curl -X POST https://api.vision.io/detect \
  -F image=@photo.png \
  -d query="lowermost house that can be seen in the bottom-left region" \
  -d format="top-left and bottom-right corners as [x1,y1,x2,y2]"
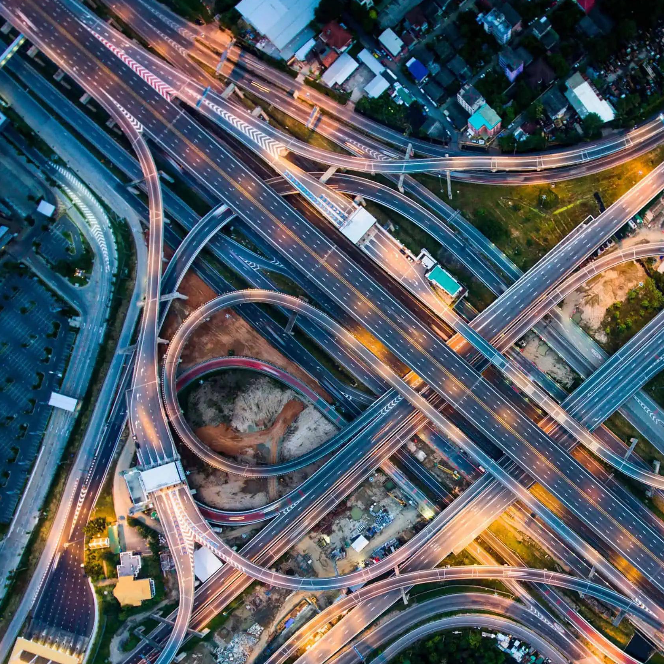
[113,573,157,606]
